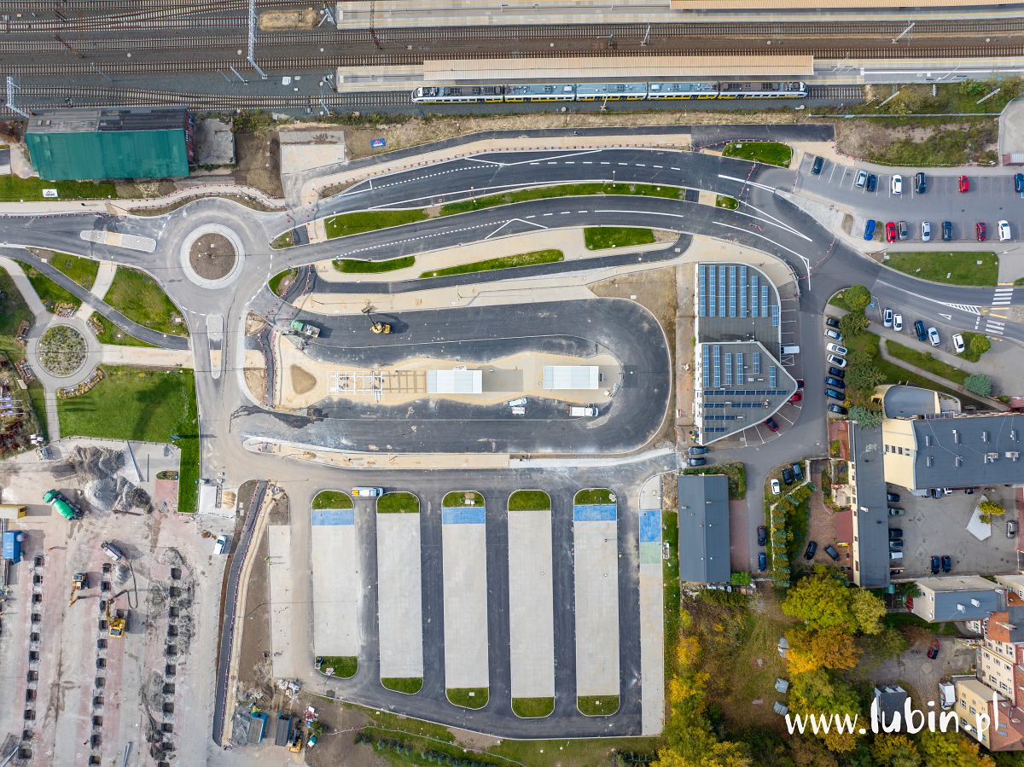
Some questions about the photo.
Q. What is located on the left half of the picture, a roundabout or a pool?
roundabout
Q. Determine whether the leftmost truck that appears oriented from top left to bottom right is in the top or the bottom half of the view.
bottom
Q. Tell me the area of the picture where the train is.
top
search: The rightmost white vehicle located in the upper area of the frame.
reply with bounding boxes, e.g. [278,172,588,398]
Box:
[997,219,1012,242]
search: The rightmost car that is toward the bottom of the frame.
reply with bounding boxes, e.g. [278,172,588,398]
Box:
[1004,519,1017,540]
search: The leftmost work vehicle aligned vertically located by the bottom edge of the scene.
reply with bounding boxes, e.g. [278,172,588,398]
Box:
[291,728,304,754]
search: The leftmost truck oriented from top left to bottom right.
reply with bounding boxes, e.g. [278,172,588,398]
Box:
[41,487,81,519]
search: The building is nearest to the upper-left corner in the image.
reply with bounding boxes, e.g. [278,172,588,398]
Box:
[25,106,198,180]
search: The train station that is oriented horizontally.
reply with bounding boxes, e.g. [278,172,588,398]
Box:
[337,0,1024,93]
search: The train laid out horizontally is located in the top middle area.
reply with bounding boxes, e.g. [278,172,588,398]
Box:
[412,81,811,103]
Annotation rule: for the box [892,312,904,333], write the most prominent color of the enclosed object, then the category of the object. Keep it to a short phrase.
white vehicle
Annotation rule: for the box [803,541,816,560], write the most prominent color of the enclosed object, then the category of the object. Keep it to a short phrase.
black vehicle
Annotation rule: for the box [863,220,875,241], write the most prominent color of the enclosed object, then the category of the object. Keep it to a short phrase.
blue vehicle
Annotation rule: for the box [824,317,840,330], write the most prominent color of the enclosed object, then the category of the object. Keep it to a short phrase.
black vehicle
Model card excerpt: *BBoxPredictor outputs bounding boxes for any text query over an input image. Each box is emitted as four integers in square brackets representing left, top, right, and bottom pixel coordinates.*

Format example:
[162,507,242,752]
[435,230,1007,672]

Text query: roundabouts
[153,197,272,315]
